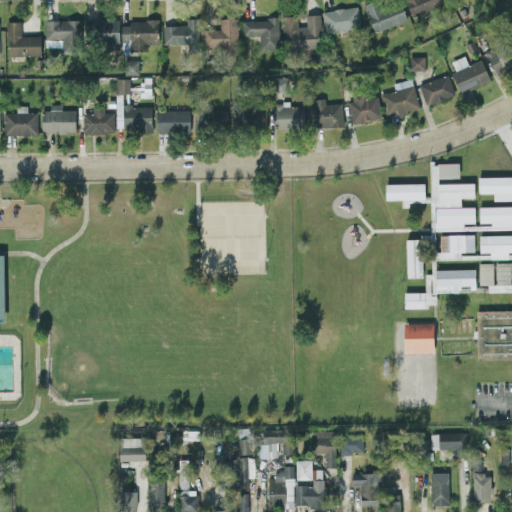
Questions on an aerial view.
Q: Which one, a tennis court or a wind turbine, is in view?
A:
tennis court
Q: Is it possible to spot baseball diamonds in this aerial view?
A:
Yes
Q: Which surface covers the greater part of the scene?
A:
grass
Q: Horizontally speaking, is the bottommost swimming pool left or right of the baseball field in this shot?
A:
to its left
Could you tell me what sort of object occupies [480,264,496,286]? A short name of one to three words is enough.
building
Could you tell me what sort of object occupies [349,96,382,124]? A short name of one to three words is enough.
house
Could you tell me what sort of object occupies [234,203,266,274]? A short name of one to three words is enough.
tennis court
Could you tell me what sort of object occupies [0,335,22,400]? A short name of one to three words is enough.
swimming pool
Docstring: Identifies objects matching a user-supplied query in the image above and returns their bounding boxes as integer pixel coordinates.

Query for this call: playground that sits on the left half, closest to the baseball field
[0,200,44,240]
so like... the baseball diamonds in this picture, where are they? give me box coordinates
[50,294,154,398]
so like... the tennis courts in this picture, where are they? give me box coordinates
[202,203,234,274]
[234,203,266,274]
